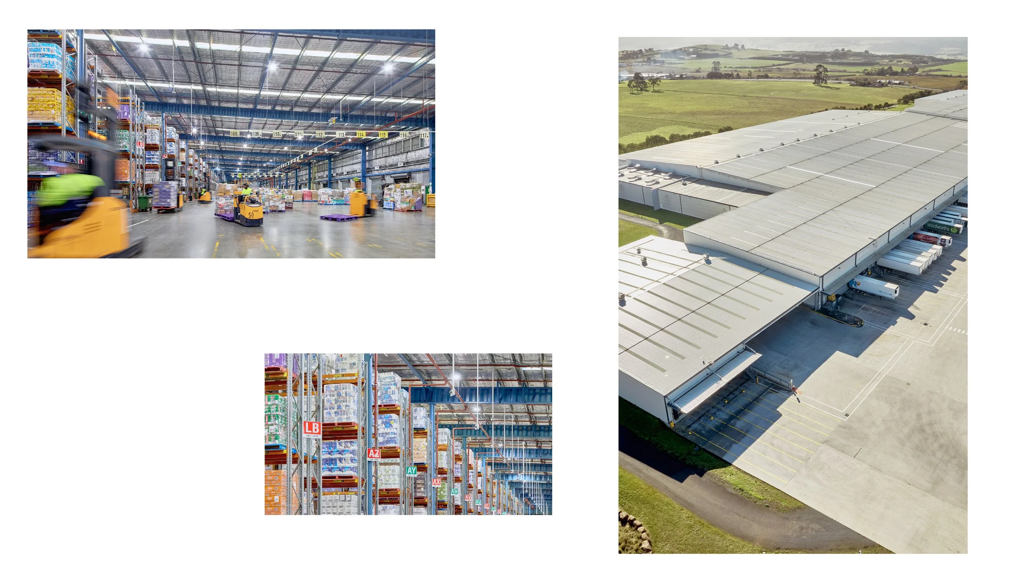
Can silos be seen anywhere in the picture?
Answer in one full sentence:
No, no silo is visible in the view.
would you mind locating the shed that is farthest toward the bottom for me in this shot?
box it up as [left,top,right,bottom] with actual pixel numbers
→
[618,235,826,429]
